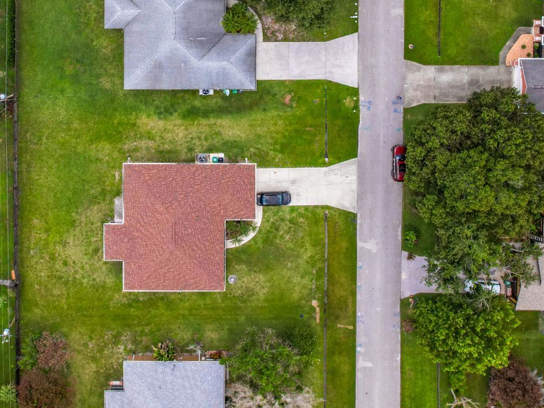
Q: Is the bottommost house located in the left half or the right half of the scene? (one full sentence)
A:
The bottommost house appears in the left half of the scene.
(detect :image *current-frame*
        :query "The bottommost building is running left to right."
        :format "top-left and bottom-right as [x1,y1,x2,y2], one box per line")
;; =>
[104,354,226,408]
